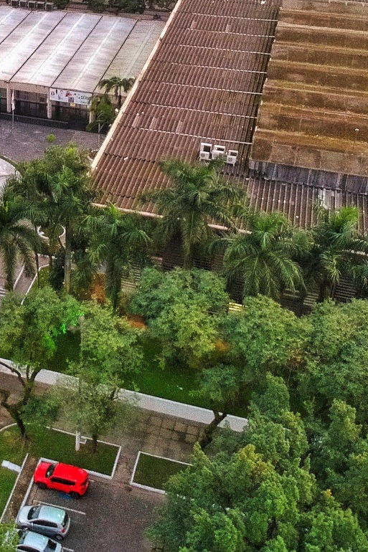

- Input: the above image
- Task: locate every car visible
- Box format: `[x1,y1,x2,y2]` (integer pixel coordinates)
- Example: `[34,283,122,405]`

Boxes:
[6,533,69,552]
[16,503,72,541]
[34,461,91,499]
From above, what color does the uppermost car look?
red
